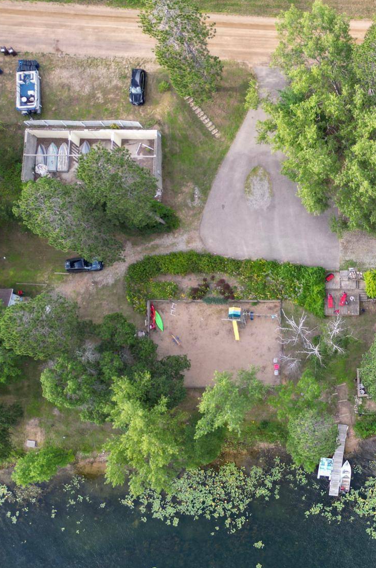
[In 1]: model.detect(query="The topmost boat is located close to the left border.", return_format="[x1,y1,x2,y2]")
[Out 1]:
[14,65,40,113]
